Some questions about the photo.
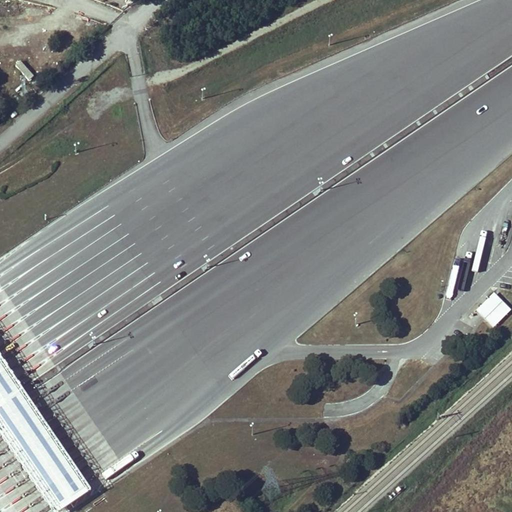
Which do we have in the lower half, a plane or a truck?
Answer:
truck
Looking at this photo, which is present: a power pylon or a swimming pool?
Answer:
power pylon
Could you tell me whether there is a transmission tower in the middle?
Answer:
No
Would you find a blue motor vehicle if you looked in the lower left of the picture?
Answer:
No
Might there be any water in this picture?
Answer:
No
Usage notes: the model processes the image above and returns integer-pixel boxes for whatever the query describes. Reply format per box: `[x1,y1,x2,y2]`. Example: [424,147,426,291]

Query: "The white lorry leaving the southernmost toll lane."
[100,452,140,482]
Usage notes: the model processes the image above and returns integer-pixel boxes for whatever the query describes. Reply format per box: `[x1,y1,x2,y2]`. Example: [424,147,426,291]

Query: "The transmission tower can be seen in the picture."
[257,464,286,507]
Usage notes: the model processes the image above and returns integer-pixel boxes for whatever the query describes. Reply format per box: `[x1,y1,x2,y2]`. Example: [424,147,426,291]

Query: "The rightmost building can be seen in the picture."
[478,294,512,328]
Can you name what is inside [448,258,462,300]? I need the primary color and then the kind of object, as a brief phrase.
white vehicle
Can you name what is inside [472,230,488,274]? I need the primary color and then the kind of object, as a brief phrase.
white vehicle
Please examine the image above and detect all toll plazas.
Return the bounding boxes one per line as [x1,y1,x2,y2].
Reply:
[0,352,90,512]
